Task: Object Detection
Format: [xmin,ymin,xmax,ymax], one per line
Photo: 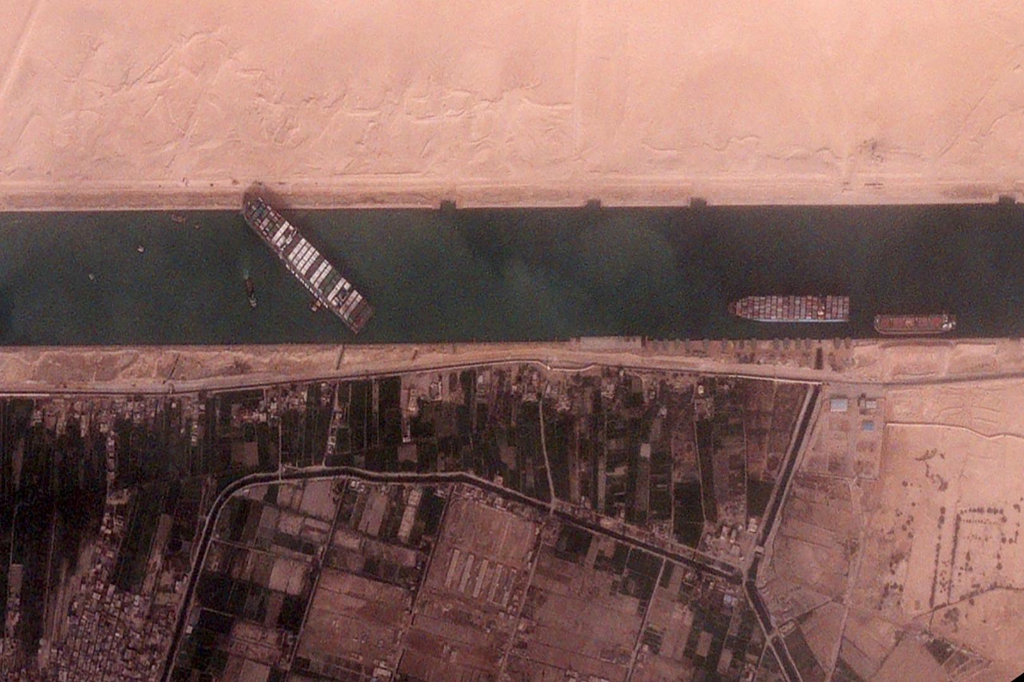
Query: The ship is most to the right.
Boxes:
[874,315,956,334]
